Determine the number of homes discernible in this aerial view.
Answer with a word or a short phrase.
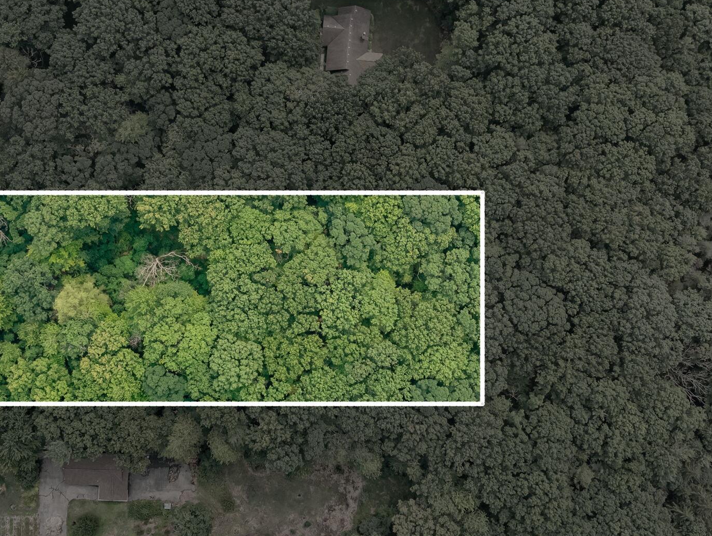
2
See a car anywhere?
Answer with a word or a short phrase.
No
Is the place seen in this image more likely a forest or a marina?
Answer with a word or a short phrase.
forest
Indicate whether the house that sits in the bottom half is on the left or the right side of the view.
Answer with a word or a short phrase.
left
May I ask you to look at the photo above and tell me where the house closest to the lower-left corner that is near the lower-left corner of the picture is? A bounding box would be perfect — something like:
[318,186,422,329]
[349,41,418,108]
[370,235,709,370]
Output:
[62,455,129,503]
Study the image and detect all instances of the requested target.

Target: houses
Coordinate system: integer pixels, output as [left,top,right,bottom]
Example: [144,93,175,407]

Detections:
[62,455,129,503]
[321,5,383,94]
